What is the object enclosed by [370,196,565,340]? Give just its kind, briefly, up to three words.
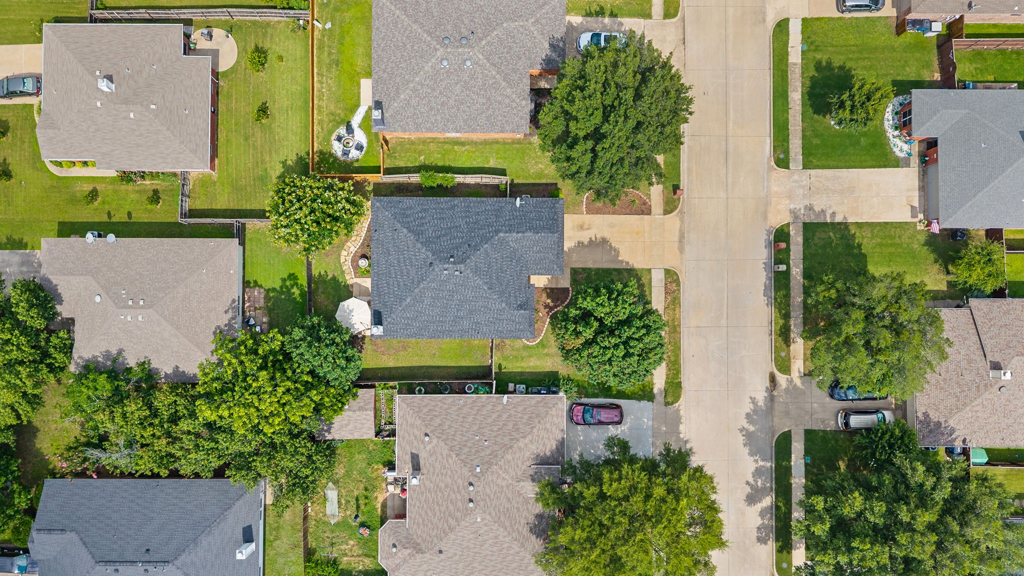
house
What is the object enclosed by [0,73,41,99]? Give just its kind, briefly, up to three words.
car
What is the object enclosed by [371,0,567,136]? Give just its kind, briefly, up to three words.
house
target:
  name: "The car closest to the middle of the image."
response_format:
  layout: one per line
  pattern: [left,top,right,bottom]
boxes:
[569,403,624,429]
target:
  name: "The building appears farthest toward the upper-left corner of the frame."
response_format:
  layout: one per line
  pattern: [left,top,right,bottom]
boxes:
[35,23,223,172]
